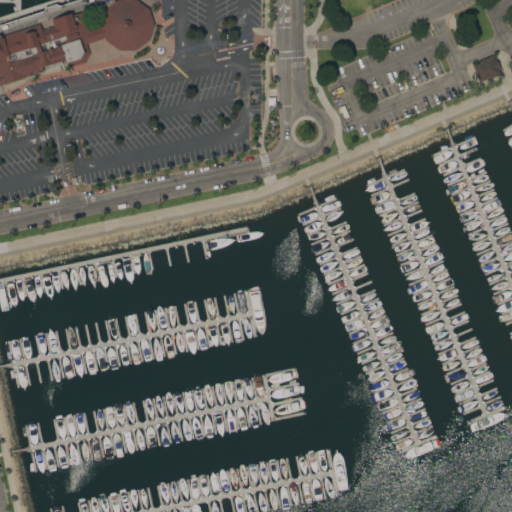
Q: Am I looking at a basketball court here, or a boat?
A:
boat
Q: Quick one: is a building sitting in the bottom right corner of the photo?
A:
No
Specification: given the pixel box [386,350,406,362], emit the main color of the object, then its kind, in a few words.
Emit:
white boat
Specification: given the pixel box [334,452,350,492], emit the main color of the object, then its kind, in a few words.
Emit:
white boat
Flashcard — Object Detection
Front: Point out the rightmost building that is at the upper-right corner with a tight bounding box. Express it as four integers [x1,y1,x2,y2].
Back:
[474,54,504,87]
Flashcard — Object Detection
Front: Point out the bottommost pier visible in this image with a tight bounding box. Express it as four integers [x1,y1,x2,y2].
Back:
[48,449,338,512]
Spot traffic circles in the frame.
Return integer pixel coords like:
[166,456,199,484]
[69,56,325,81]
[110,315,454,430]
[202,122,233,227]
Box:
[282,106,331,156]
